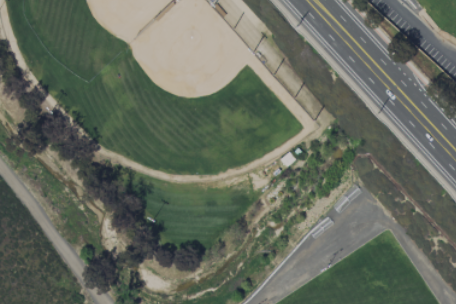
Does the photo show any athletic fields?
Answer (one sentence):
Yes, there's an athletic field here.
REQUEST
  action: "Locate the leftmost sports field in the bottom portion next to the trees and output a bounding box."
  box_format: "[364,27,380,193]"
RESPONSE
[142,176,255,254]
